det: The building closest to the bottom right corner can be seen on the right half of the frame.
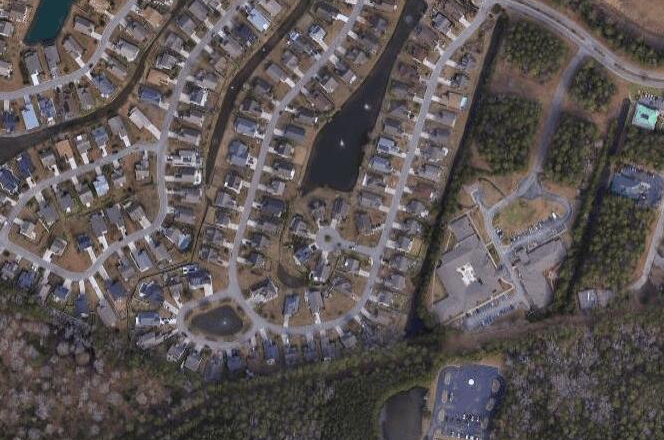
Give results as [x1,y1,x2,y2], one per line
[512,236,566,308]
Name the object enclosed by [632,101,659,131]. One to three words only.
building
